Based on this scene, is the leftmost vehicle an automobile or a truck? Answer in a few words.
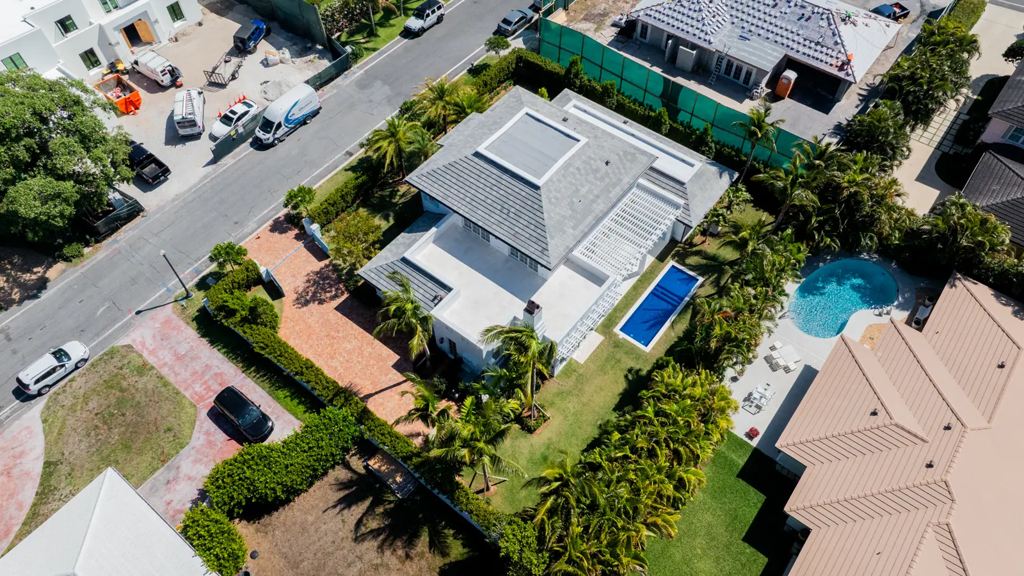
automobile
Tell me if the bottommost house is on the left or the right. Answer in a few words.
left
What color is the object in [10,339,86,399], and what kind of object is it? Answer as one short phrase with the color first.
white car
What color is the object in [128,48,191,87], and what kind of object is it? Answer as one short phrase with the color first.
white van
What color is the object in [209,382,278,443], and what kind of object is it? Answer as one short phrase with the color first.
black car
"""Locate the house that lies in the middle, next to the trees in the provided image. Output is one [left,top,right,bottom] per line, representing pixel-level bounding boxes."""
[356,85,738,389]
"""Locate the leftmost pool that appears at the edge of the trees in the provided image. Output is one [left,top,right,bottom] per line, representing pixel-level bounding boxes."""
[620,265,699,347]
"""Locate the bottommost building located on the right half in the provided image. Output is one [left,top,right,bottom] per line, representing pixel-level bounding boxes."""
[775,268,1024,576]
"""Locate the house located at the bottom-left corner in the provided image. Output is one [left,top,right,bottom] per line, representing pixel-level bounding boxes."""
[0,466,225,576]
